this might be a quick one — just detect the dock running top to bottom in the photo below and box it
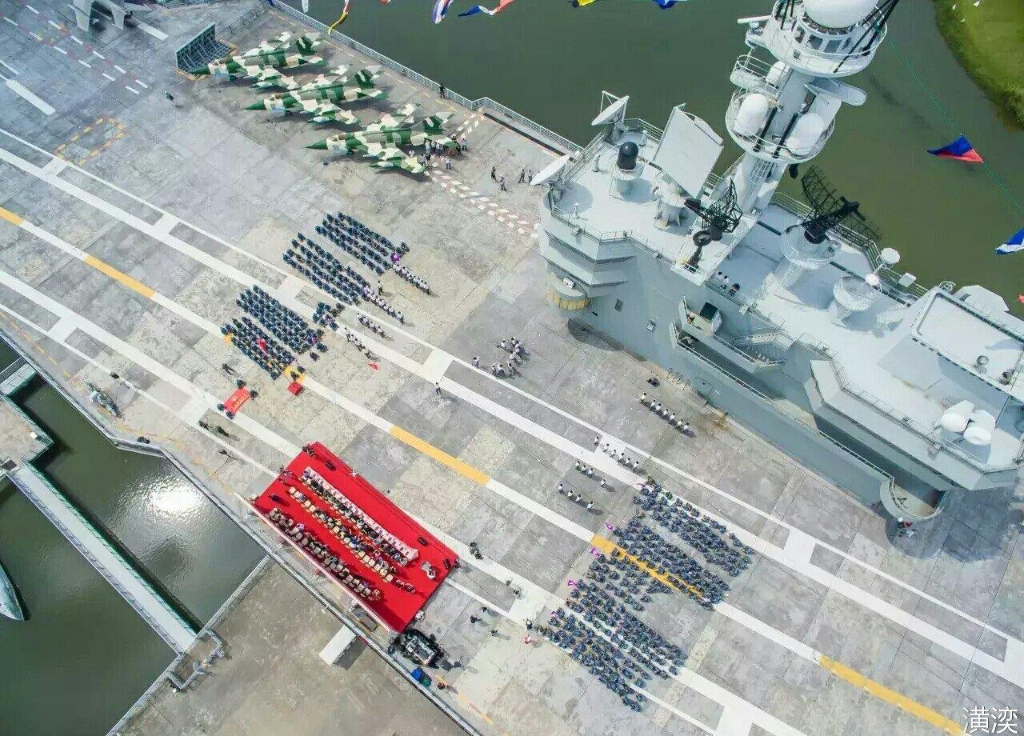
[0,358,66,493]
